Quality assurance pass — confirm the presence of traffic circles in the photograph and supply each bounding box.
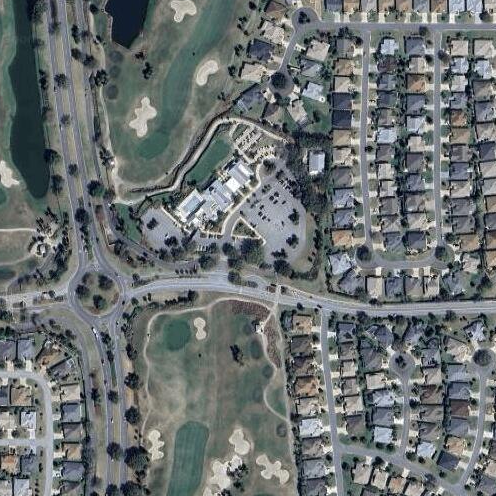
[67,264,126,322]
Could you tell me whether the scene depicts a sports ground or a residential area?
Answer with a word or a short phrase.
residential area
